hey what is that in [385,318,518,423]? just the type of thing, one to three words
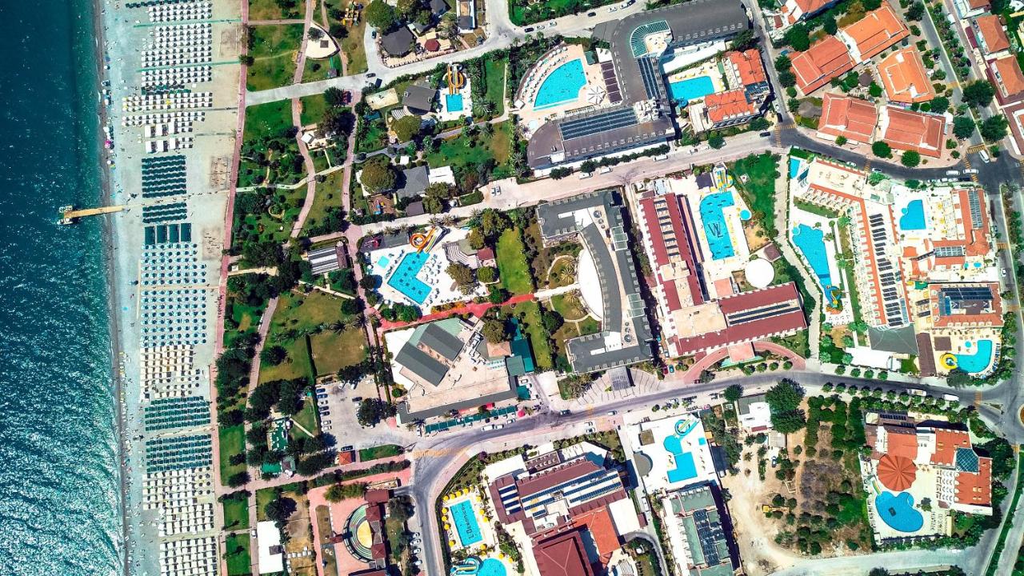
building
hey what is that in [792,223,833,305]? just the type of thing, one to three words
swimming pool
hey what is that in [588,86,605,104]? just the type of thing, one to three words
umbrella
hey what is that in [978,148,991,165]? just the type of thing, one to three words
vehicle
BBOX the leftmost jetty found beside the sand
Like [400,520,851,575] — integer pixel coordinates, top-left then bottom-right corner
[58,205,124,218]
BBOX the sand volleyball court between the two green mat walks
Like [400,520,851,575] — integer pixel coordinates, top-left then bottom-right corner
[218,28,237,58]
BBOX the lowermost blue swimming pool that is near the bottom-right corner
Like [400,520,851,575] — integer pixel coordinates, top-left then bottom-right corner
[875,491,924,533]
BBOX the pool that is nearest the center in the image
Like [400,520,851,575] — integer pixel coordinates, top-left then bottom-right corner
[387,252,435,305]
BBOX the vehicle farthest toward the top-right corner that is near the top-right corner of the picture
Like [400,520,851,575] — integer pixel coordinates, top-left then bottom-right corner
[945,9,958,26]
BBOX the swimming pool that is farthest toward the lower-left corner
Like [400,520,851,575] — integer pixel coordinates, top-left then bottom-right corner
[449,499,483,547]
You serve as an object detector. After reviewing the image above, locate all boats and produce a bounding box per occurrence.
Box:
[57,218,75,225]
[59,205,74,212]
